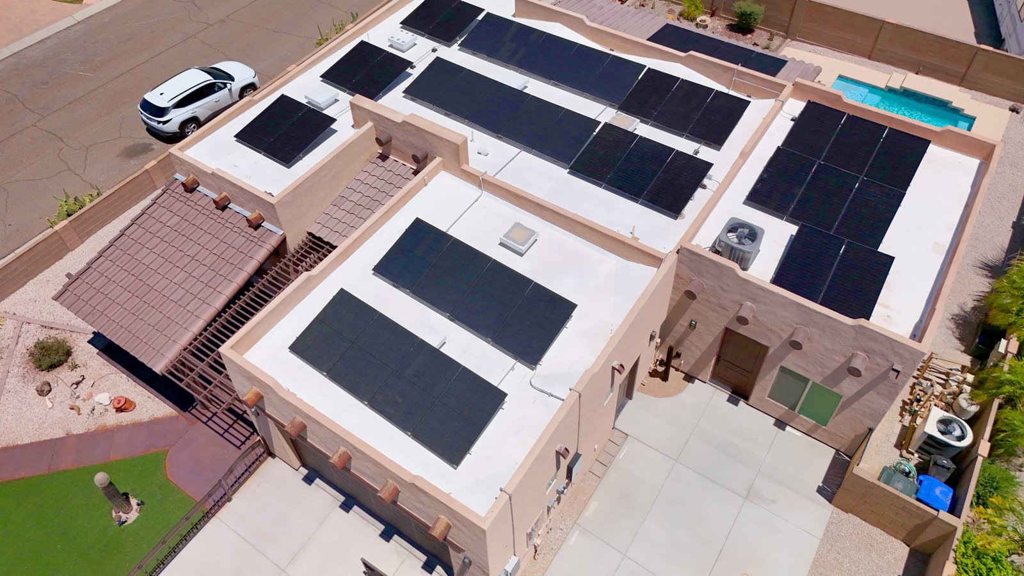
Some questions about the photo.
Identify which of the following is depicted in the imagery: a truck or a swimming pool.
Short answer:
swimming pool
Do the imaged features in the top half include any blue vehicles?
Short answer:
No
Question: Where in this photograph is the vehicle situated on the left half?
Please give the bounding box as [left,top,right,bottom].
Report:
[136,60,261,141]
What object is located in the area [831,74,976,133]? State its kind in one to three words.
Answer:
swimming pool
